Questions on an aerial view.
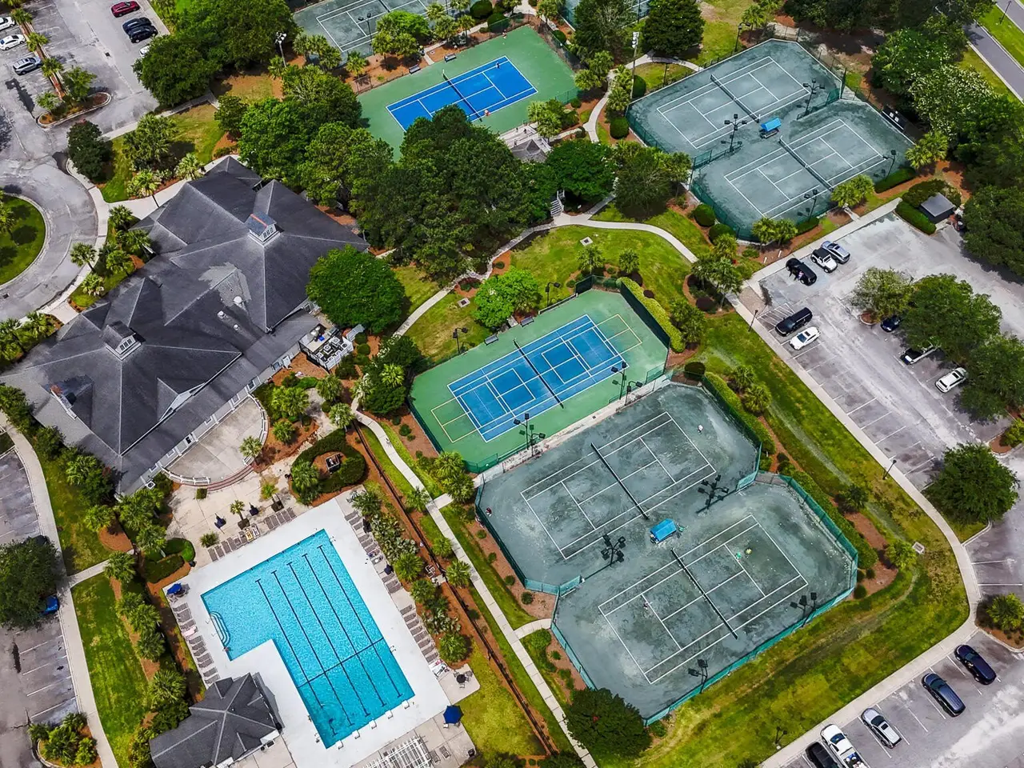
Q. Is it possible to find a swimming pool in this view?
Yes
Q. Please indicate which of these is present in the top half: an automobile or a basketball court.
automobile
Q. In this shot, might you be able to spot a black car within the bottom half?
Yes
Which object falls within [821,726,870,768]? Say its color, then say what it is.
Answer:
white truck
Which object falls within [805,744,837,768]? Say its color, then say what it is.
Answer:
black car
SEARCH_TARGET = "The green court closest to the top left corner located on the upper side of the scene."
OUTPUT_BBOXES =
[357,24,586,167]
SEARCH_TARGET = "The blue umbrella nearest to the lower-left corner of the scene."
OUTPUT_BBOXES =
[168,584,184,598]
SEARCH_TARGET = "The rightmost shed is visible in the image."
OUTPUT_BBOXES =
[920,192,955,222]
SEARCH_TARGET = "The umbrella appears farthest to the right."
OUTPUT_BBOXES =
[443,705,462,725]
